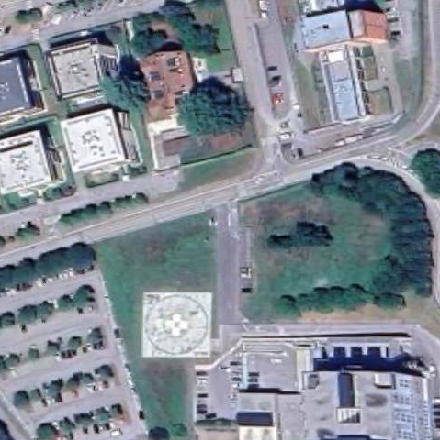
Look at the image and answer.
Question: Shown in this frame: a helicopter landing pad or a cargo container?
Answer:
helicopter landing pad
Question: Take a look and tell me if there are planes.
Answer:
No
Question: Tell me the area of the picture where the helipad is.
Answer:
bottom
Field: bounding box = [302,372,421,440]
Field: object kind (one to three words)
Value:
building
